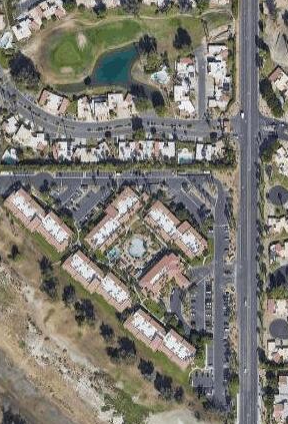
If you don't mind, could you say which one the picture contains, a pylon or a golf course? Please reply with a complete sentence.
Of the two, only a golf course appears.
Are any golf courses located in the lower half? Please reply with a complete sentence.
No, there's no golf course to be seen in the lower half.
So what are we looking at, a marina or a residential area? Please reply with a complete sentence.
The area seen from above is a residential area.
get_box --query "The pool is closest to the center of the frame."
[129,237,145,255]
